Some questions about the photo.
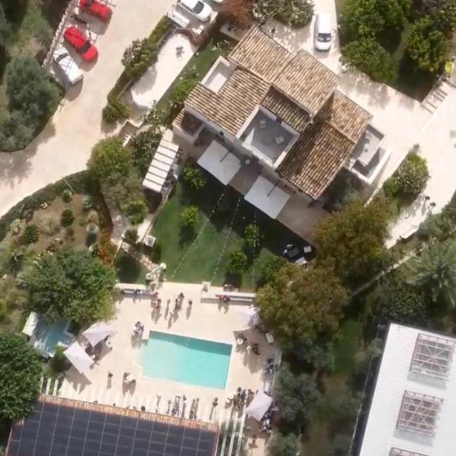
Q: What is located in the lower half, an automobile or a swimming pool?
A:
swimming pool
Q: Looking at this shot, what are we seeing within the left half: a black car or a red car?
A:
red car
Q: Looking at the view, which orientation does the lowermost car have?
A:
diagonally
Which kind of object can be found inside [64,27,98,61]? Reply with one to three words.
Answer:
car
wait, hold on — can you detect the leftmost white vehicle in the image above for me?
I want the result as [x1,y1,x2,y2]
[50,49,85,87]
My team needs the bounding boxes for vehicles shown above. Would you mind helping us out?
[212,0,231,7]
[64,27,98,61]
[313,11,334,53]
[78,0,114,23]
[50,49,85,87]
[176,0,214,25]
